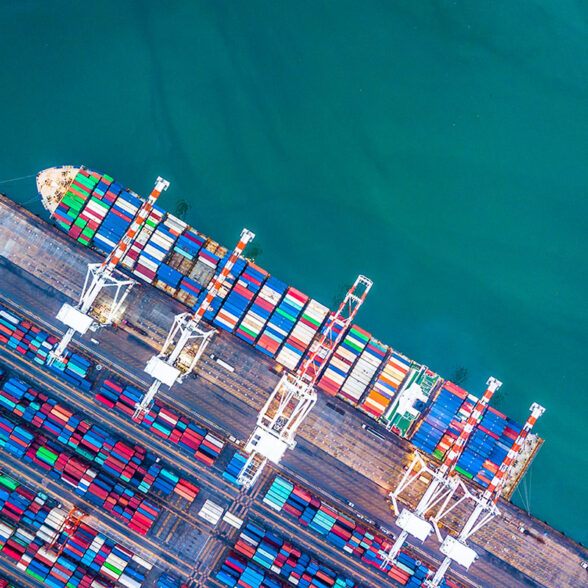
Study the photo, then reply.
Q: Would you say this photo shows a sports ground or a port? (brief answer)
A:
port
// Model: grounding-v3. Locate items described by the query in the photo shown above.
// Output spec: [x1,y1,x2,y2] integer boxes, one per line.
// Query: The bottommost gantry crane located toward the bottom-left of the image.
[49,501,96,556]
